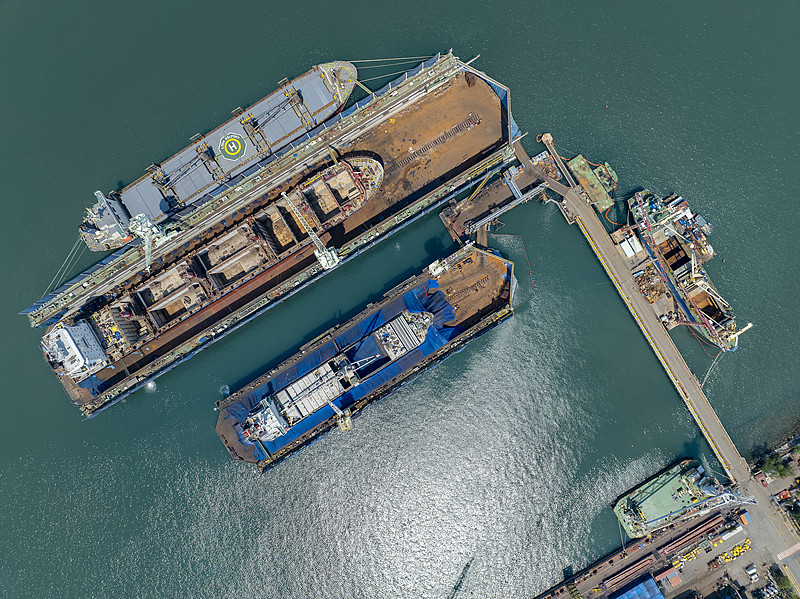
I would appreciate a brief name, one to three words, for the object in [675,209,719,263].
ship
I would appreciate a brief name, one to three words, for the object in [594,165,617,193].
ship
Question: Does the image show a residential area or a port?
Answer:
port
